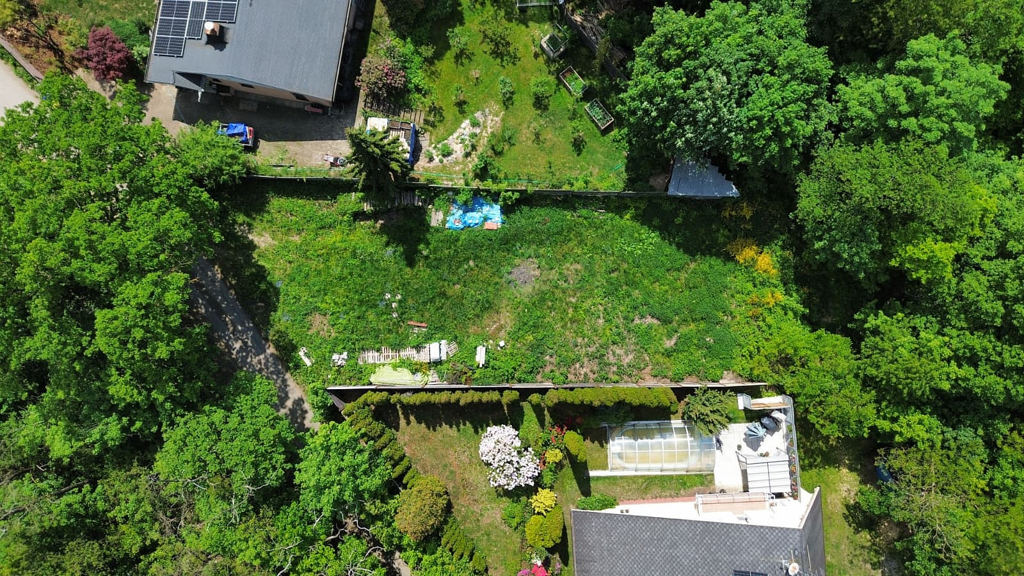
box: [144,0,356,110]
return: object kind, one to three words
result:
house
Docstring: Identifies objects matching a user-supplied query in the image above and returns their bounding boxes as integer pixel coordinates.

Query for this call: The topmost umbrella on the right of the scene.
[744,417,769,440]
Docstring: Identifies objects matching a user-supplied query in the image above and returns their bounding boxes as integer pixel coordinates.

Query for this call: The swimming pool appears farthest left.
[611,424,709,473]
